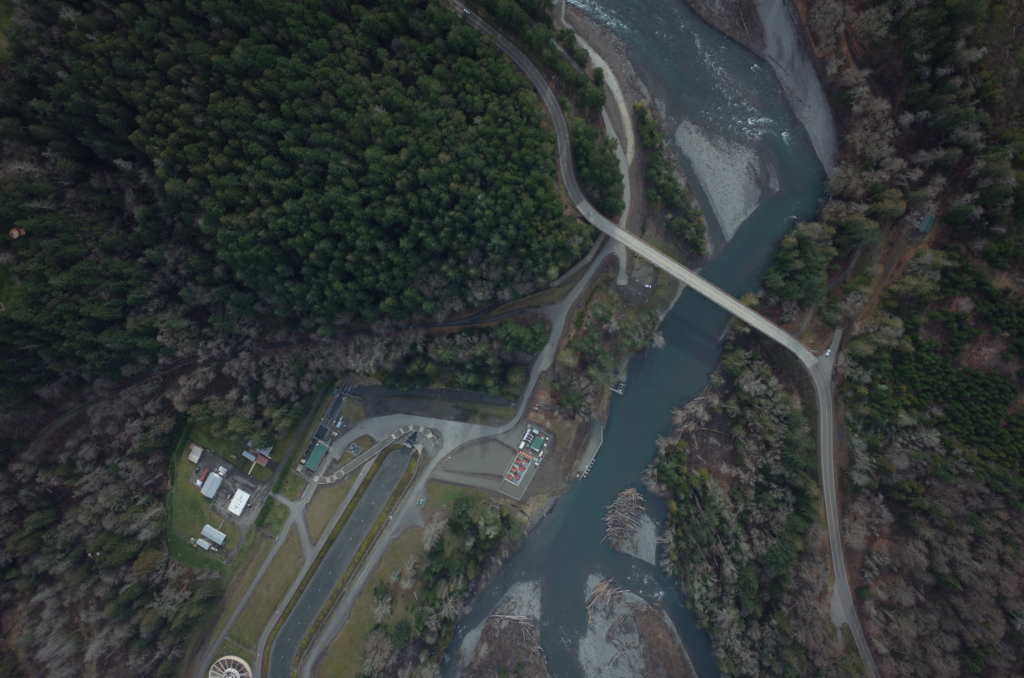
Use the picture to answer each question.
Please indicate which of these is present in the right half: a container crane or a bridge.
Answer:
bridge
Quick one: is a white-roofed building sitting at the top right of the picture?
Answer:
No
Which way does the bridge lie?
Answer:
on a diagonal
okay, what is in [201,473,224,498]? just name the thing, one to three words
building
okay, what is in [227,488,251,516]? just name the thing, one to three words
building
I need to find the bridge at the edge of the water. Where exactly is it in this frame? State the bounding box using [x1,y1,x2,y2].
[575,197,819,371]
